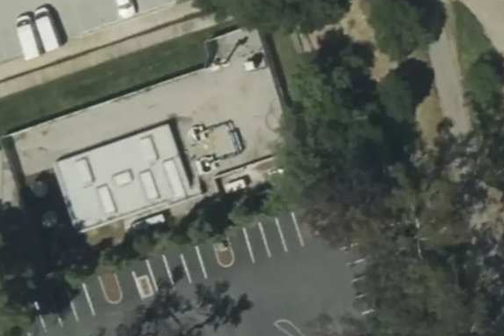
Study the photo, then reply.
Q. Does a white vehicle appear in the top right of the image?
No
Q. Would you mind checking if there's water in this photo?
No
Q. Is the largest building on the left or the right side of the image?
left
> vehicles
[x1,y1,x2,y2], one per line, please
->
[118,0,137,16]
[39,6,64,54]
[19,13,43,59]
